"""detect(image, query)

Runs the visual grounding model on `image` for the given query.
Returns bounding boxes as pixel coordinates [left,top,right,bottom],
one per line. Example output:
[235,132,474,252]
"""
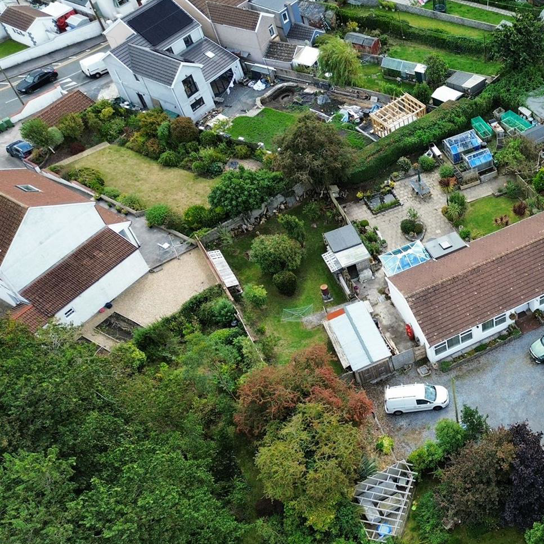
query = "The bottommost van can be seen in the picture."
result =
[384,384,448,421]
